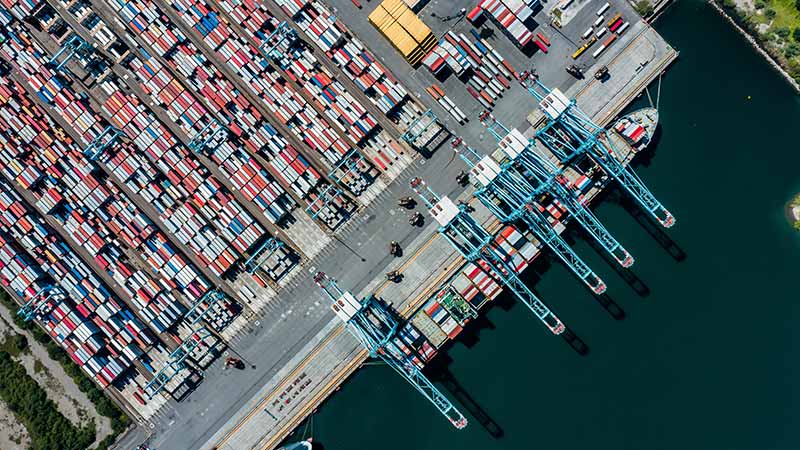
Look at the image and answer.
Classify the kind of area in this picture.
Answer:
port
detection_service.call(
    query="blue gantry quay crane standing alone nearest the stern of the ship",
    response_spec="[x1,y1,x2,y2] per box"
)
[316,273,470,428]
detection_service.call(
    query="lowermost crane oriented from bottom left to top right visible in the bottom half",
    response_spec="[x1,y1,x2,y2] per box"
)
[141,359,185,401]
